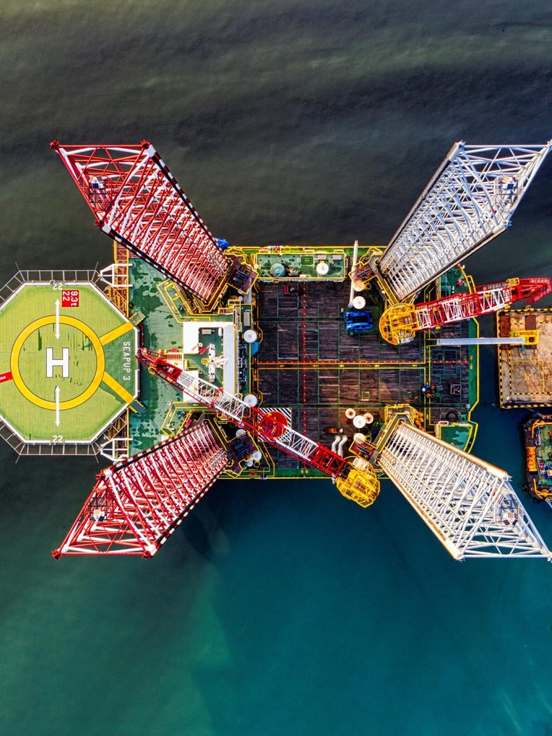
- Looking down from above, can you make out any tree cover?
No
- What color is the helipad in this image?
yellow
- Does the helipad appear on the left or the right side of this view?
left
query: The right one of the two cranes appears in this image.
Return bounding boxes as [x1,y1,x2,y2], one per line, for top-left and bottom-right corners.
[377,273,547,344]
